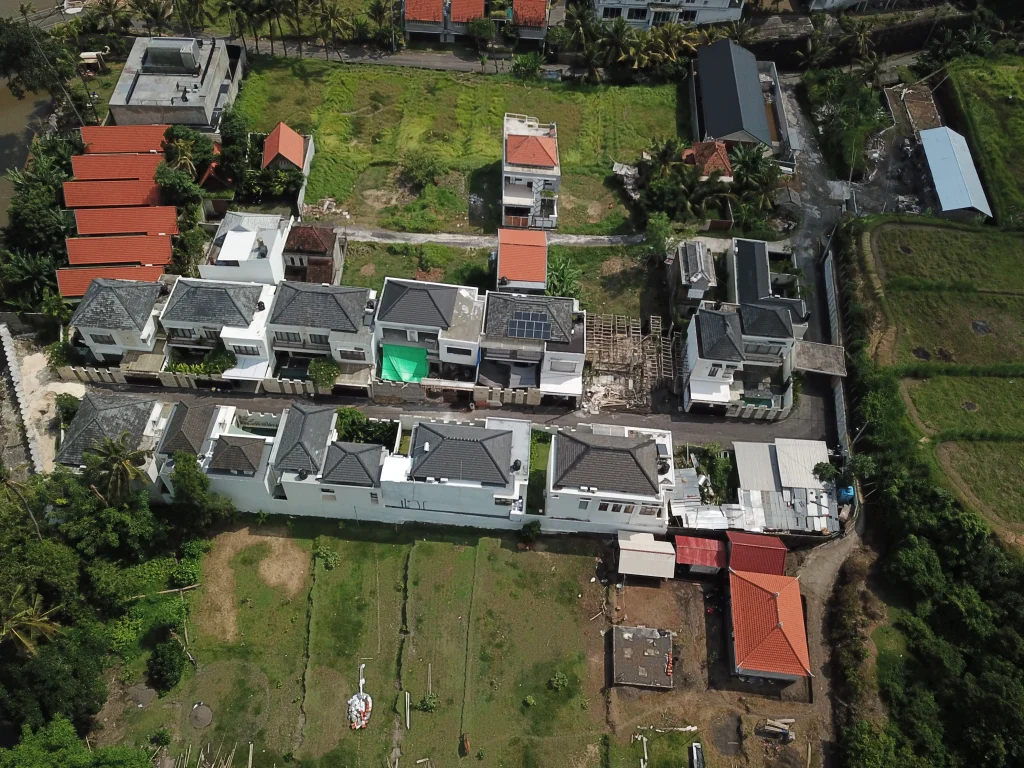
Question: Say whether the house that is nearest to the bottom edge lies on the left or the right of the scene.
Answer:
right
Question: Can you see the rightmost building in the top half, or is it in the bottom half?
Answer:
top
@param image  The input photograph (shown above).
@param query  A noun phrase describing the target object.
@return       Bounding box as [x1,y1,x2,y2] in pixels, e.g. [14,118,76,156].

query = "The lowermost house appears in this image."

[727,565,817,694]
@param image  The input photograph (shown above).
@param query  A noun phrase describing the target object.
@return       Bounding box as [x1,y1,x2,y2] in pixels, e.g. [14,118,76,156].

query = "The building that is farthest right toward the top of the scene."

[915,126,992,229]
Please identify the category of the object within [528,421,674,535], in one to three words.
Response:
house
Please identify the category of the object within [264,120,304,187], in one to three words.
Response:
building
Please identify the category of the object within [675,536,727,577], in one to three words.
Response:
shed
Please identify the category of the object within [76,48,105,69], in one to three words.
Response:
gazebo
